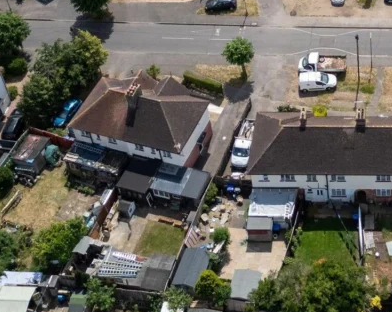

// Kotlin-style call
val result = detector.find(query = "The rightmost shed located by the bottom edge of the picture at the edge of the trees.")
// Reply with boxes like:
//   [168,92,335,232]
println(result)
[231,264,262,312]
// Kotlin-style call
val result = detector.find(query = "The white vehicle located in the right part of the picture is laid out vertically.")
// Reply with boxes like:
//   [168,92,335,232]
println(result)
[231,122,256,165]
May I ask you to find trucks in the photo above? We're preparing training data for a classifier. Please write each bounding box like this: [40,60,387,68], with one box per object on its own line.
[297,51,349,76]
[231,122,256,165]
